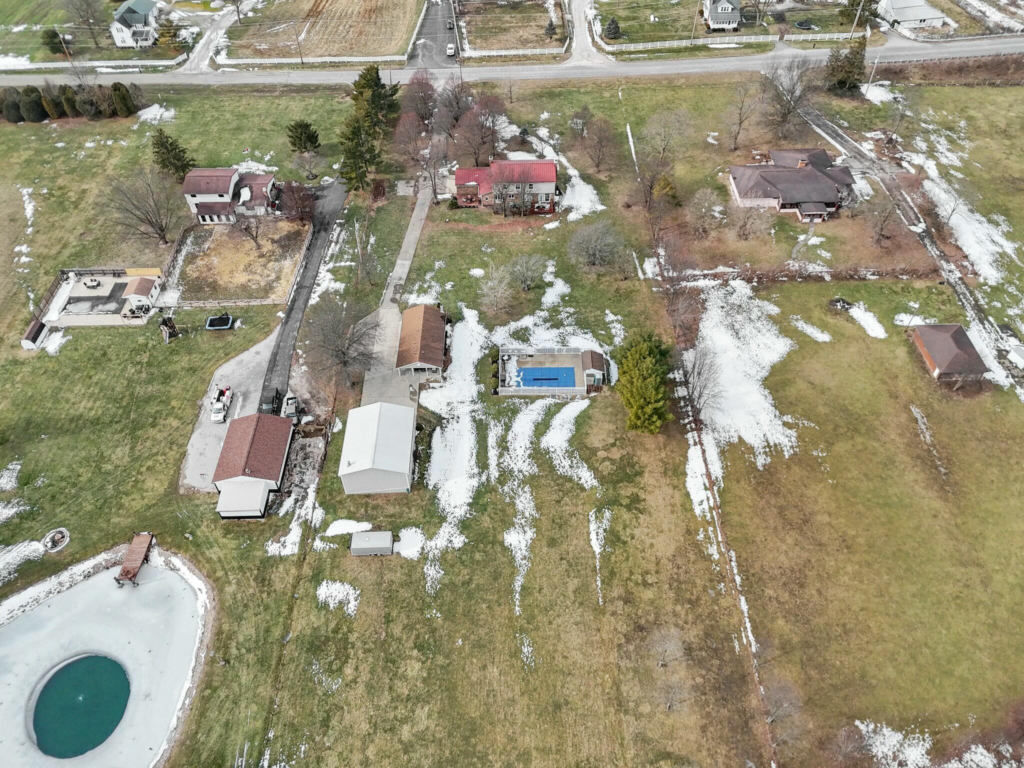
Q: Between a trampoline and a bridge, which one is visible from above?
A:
trampoline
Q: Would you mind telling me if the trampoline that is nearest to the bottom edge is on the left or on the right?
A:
left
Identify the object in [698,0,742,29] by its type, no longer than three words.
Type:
house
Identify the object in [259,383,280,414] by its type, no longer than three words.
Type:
truck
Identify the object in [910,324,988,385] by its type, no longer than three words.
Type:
building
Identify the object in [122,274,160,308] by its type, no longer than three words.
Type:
building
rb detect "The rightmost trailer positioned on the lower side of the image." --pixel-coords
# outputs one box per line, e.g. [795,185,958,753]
[343,529,394,554]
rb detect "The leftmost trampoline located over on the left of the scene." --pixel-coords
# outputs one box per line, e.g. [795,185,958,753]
[197,303,234,330]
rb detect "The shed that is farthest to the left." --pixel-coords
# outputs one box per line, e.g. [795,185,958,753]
[18,317,48,348]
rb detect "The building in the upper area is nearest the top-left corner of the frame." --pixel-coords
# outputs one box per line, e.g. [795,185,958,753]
[109,0,191,47]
